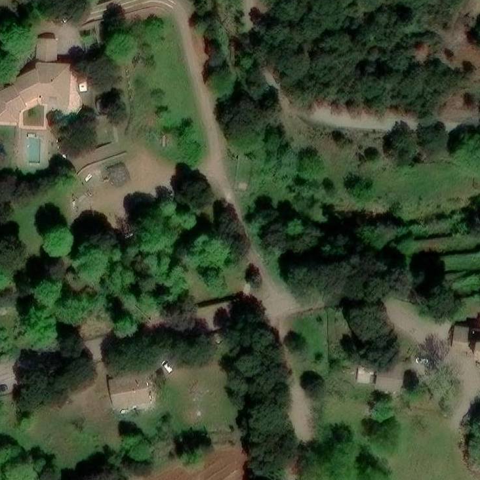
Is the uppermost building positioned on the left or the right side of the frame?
left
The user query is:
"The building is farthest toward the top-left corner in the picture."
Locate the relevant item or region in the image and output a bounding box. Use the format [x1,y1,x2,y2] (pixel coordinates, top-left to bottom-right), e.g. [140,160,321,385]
[35,38,57,61]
